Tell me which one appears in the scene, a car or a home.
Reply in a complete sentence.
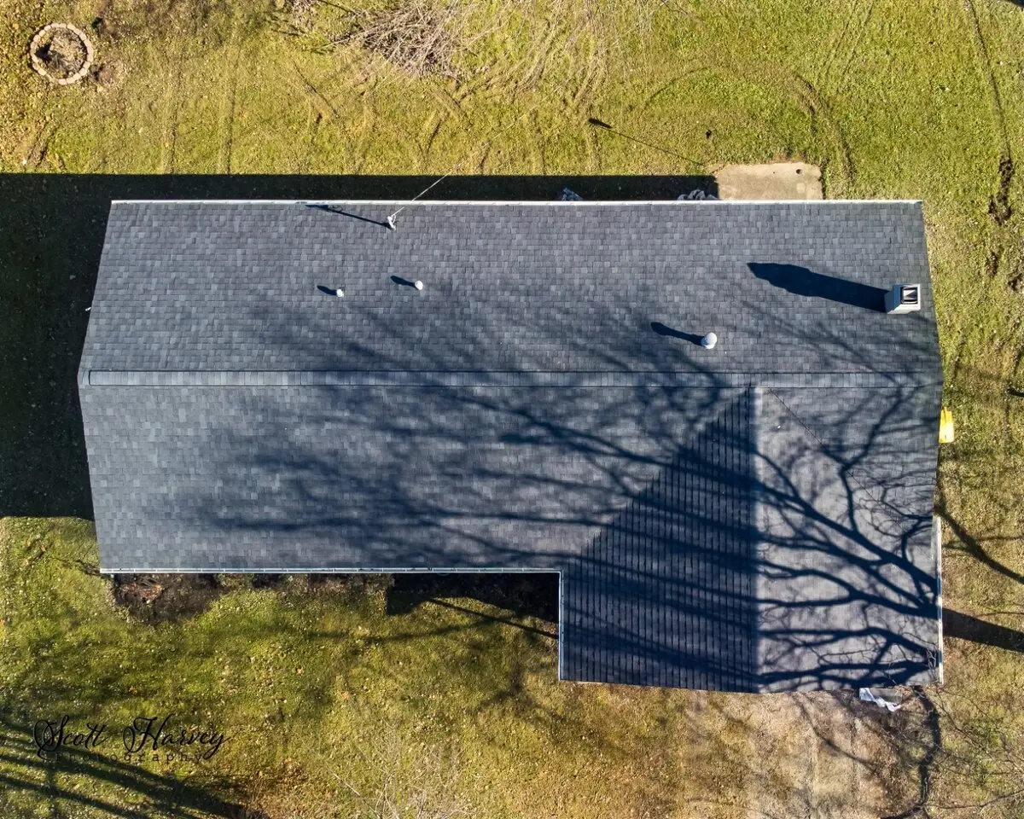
It is a home that can be seen here.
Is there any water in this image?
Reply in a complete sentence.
No, no water is visible.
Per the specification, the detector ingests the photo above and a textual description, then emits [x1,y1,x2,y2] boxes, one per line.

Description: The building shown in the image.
[78,198,942,693]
